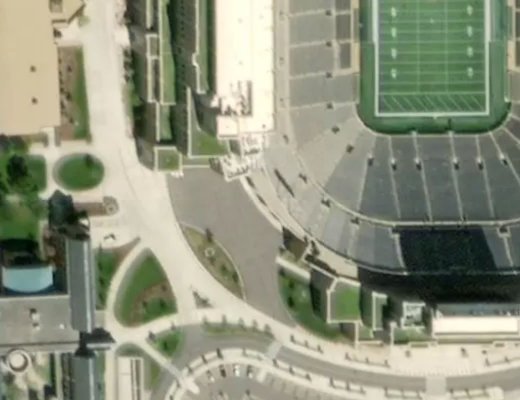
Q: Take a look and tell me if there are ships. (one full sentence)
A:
No, there's no ship here.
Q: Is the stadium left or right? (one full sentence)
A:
The stadium sits on the right side.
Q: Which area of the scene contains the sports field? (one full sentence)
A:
The sports field is in the top right part of the image.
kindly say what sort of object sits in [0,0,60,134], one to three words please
building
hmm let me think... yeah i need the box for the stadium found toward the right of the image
[233,0,520,281]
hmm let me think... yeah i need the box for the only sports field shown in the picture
[359,0,507,134]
